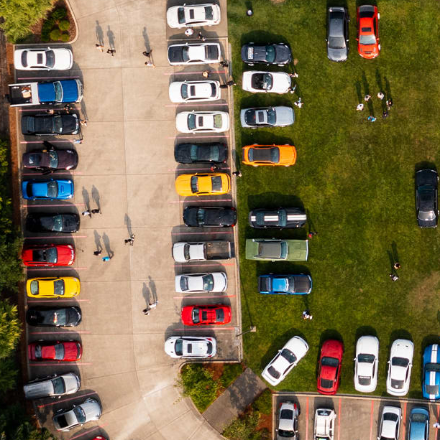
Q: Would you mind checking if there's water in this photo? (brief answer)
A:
No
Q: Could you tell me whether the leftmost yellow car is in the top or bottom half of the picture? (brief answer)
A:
bottom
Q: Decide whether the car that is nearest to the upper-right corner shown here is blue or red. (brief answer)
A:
red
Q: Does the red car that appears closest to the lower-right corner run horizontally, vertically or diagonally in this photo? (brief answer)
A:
vertically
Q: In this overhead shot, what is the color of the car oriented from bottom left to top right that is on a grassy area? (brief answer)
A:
white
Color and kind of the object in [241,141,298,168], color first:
orange car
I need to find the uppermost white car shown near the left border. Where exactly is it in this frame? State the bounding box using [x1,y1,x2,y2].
[14,45,74,71]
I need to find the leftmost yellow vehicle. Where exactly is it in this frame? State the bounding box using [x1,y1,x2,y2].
[25,274,82,300]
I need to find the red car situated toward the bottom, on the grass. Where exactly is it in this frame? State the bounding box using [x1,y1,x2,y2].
[317,338,345,395]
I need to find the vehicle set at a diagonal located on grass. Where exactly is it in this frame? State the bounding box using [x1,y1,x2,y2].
[262,335,308,389]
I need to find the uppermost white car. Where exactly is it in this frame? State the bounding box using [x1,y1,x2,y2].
[167,2,221,28]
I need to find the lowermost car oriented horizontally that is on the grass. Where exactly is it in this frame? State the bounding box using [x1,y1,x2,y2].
[256,271,313,296]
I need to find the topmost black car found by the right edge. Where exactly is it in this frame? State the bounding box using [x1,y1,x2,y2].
[413,169,439,227]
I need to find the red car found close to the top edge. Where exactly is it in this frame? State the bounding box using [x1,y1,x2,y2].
[354,5,381,59]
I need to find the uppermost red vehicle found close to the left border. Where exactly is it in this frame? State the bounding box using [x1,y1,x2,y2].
[21,242,76,267]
